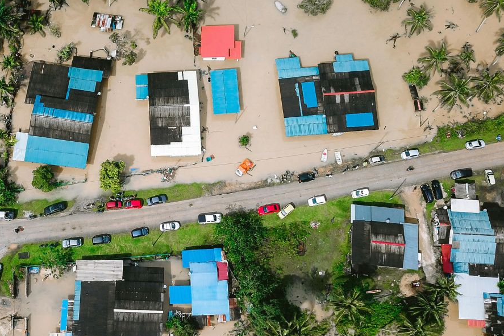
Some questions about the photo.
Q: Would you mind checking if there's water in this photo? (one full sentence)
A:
Yes, some water is visible.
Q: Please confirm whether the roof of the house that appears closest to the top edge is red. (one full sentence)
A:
Yes, the roof of the house that appears closest to the top edge is indeed red.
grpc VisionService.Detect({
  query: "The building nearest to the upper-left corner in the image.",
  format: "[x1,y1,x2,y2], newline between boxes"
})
[13,57,112,170]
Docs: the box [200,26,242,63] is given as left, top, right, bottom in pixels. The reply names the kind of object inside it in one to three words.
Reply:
house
